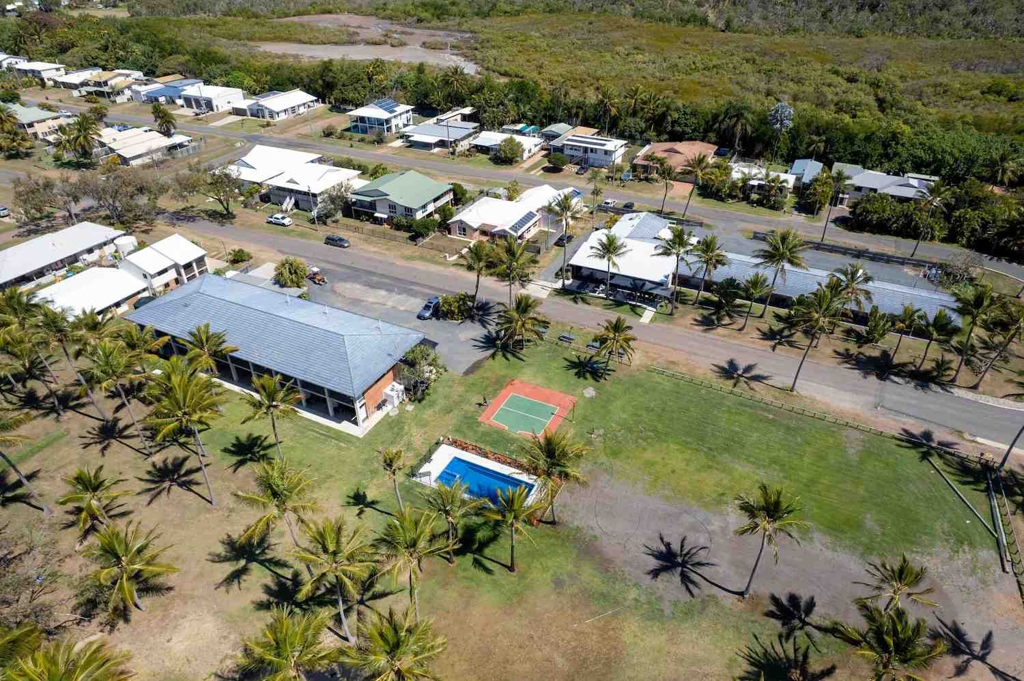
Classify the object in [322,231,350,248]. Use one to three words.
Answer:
car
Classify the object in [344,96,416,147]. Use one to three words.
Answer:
house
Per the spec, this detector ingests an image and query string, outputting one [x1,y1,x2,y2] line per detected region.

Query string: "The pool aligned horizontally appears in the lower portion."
[413,442,551,523]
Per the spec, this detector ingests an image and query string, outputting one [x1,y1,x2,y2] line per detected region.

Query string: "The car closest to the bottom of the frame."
[415,295,440,320]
